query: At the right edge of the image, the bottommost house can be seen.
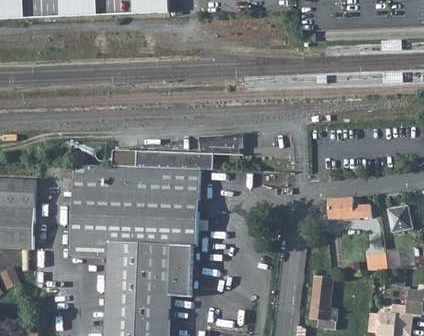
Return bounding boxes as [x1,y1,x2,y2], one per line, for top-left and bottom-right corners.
[368,304,412,336]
